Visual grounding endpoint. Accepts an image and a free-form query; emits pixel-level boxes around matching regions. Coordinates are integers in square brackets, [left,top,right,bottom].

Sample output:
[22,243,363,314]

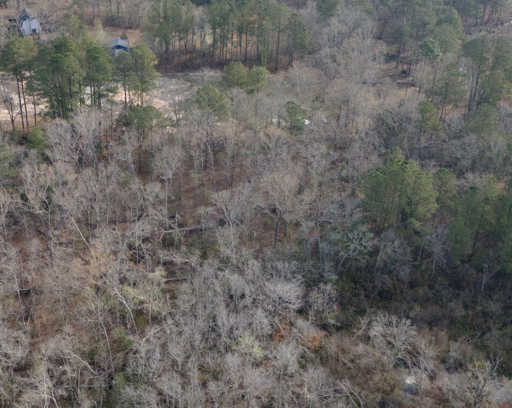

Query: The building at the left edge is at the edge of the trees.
[20,8,41,35]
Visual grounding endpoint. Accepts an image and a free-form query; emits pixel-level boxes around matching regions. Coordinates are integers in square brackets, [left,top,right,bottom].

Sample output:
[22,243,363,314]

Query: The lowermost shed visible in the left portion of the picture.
[110,34,131,55]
